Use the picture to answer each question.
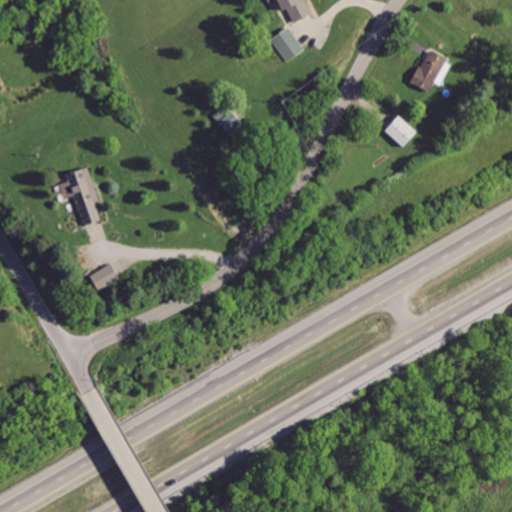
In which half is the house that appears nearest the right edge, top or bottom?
top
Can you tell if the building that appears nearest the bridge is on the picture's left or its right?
left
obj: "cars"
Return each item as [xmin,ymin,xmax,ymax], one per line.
[298,35,308,43]
[165,478,175,486]
[308,38,316,48]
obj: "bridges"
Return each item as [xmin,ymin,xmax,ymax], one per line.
[75,382,167,512]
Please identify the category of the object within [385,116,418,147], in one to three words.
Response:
house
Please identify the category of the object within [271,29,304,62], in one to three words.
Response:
barn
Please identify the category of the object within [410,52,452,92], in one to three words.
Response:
house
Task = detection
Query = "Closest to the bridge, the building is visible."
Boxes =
[90,264,117,290]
